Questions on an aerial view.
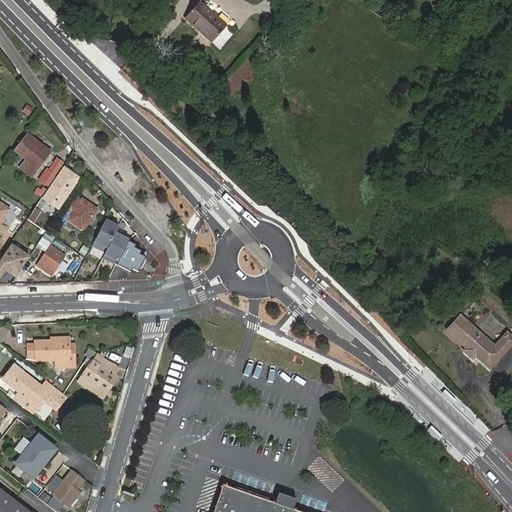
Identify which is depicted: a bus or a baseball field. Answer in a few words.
bus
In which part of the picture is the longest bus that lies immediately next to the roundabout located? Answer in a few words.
center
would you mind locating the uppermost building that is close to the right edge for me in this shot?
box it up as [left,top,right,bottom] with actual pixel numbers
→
[444,314,512,372]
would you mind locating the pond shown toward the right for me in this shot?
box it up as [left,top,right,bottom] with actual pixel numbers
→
[334,424,448,512]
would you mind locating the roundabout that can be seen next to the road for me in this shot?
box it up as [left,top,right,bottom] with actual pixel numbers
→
[210,216,298,306]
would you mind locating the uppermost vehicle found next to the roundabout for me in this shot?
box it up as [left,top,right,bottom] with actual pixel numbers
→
[222,192,260,228]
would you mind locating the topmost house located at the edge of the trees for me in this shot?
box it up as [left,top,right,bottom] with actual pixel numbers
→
[184,0,228,42]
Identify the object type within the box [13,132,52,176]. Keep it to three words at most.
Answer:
house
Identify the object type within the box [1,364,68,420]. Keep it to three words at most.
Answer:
house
